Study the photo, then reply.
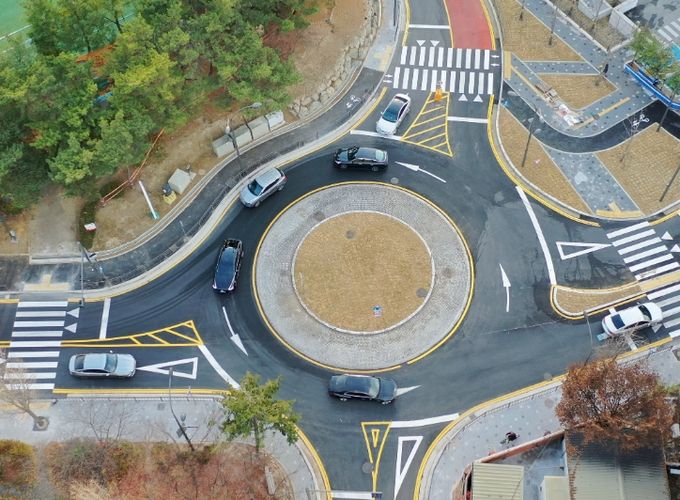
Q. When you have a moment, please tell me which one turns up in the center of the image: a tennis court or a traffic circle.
traffic circle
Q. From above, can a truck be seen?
No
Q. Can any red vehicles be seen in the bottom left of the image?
No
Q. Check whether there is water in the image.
No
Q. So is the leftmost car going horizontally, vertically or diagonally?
horizontally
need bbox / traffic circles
[222,162,512,396]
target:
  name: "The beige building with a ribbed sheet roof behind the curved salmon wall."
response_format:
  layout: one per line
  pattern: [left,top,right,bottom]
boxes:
[466,463,525,500]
